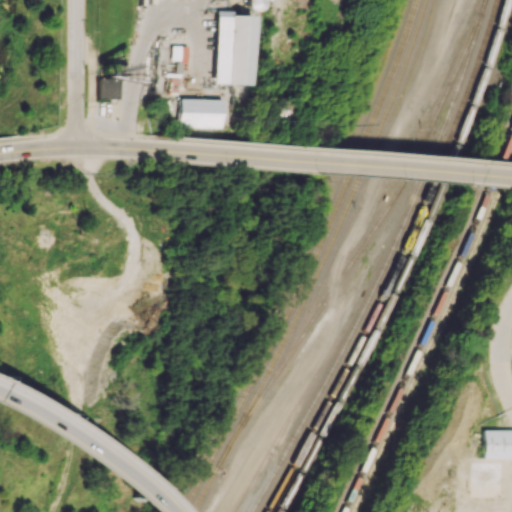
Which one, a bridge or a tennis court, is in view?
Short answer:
bridge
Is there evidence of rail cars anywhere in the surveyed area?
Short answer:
Yes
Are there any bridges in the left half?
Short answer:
Yes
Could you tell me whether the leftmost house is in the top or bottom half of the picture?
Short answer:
top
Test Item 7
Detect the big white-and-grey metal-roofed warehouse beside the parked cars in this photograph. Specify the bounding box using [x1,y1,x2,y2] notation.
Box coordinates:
[218,16,262,86]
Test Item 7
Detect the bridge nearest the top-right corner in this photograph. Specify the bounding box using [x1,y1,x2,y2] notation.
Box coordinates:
[109,134,512,187]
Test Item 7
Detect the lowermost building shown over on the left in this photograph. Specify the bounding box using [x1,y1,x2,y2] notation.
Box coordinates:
[180,98,226,130]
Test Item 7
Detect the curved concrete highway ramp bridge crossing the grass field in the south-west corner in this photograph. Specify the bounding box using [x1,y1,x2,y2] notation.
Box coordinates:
[0,372,196,512]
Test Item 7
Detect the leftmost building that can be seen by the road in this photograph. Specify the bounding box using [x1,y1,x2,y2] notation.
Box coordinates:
[98,77,122,100]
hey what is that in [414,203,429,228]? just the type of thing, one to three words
rail car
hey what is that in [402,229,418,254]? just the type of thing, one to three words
rail car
